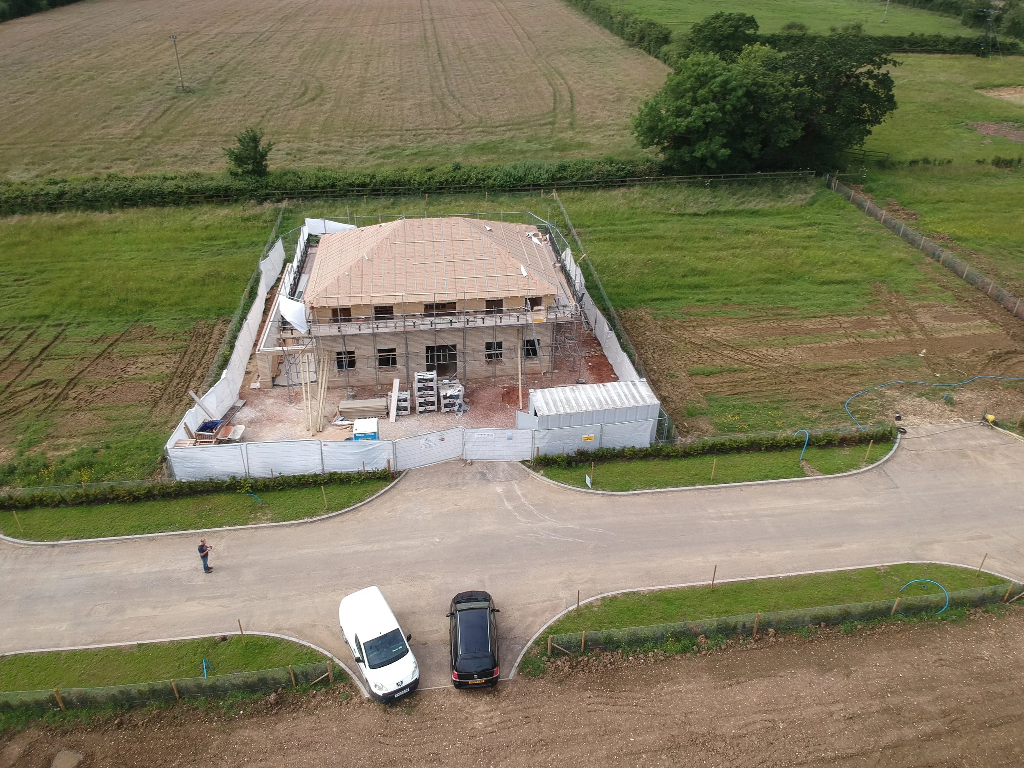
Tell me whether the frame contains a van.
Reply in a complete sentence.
Yes, there's a van here.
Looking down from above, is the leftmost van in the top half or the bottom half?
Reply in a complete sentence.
It is in the bottom half that the leftmost van appears.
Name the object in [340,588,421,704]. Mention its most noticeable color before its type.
white van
